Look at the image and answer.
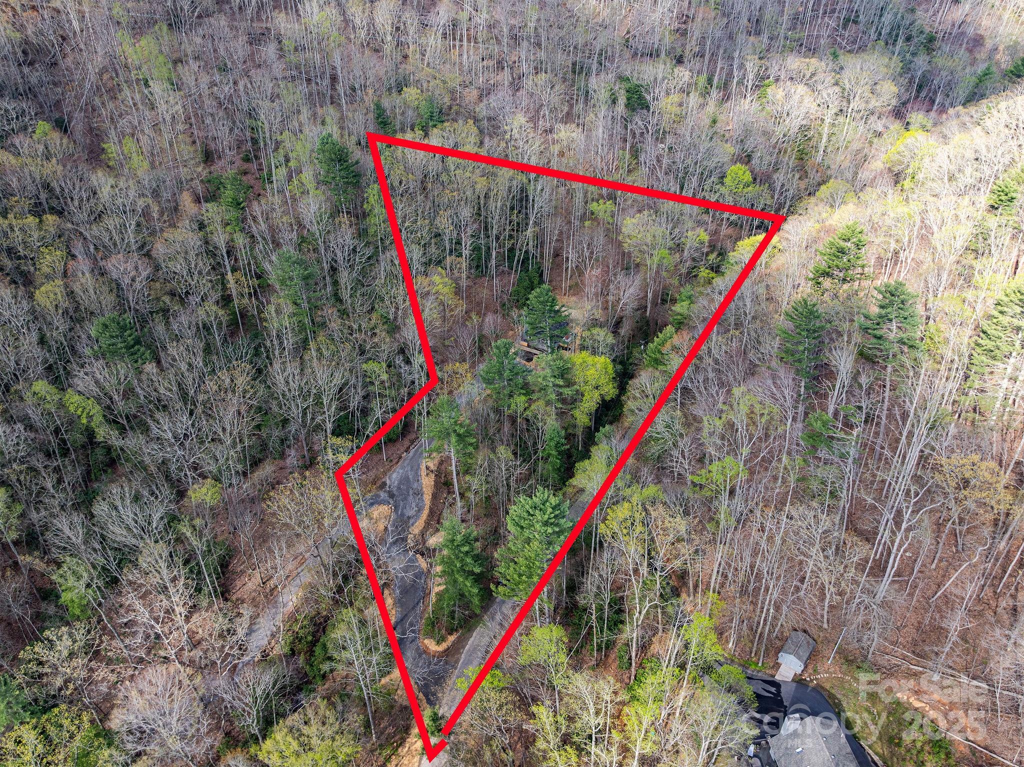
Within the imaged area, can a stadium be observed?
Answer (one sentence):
No, there's no stadium here.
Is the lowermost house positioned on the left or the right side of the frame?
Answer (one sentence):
You can find the lowermost house on the right side of the picture.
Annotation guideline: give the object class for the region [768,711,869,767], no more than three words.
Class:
house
